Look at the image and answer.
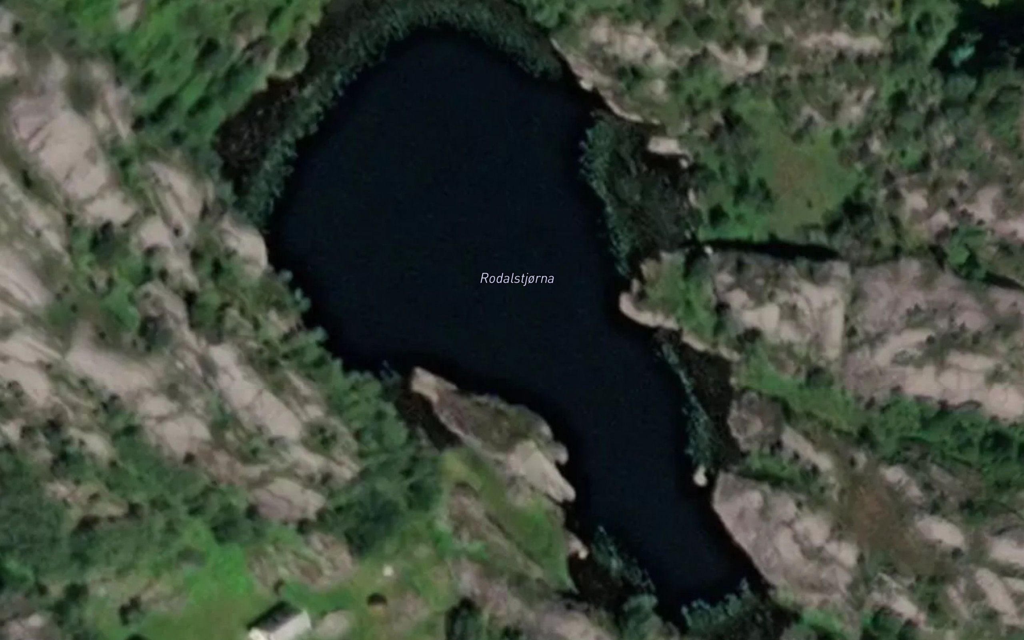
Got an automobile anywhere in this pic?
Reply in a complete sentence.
No, I can see no automobile in this picture.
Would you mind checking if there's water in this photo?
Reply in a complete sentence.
Yes, water shows up in the scene.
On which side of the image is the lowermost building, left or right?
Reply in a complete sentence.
The lowermost building sits on the left side.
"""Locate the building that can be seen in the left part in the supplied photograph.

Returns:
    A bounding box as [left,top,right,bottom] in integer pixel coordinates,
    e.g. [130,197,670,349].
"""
[256,604,310,640]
